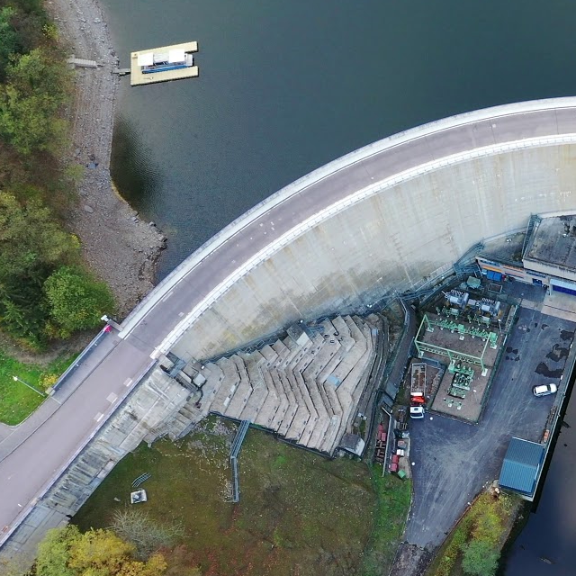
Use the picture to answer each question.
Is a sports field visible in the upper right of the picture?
No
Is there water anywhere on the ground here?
Yes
